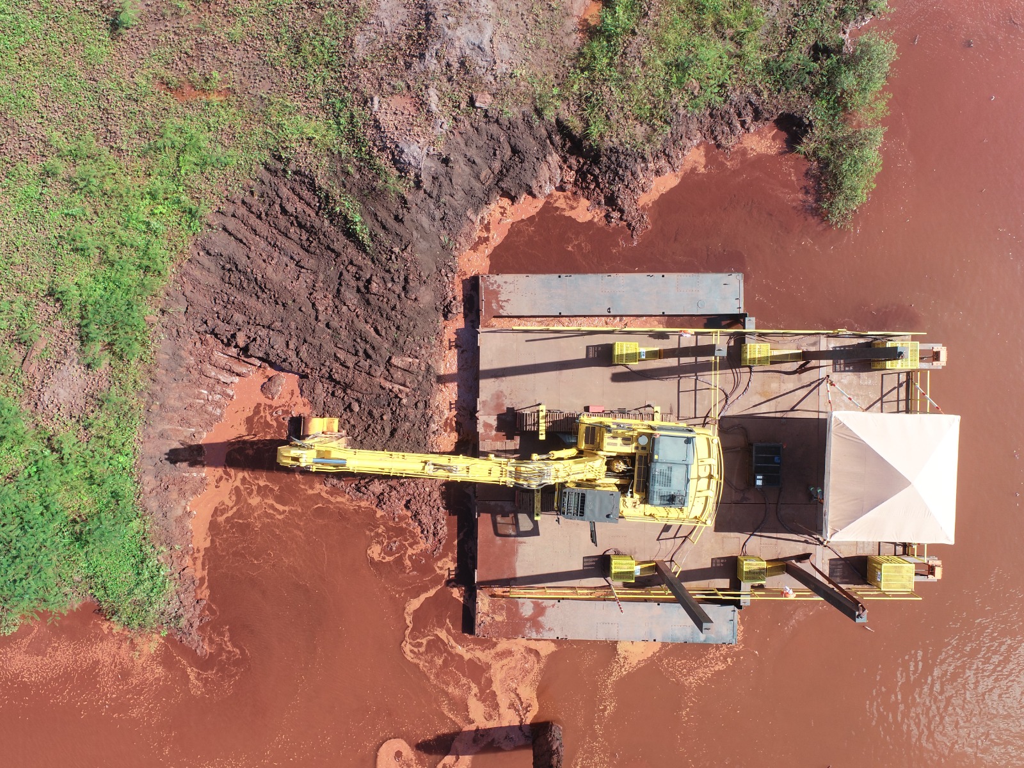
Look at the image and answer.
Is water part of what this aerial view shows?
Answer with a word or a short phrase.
Yes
